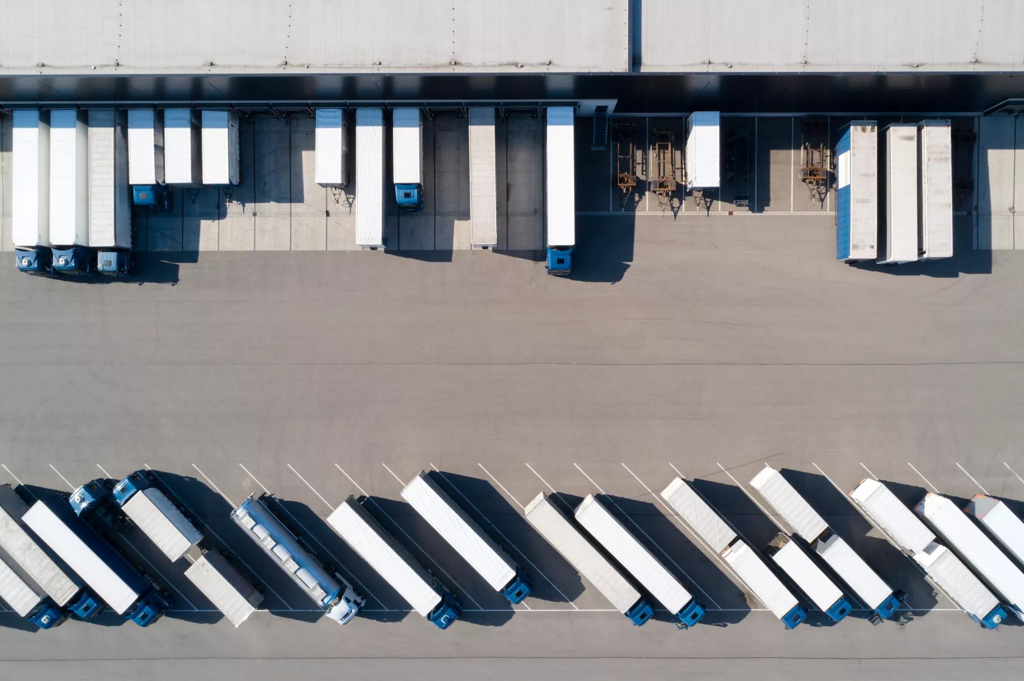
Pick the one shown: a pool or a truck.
truck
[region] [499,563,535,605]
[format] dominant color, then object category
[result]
blue truck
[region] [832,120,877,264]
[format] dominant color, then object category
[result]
white trailer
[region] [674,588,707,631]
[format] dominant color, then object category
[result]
blue truck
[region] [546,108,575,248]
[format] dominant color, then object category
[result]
white trailer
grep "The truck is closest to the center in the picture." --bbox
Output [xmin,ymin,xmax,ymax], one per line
[546,245,575,277]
